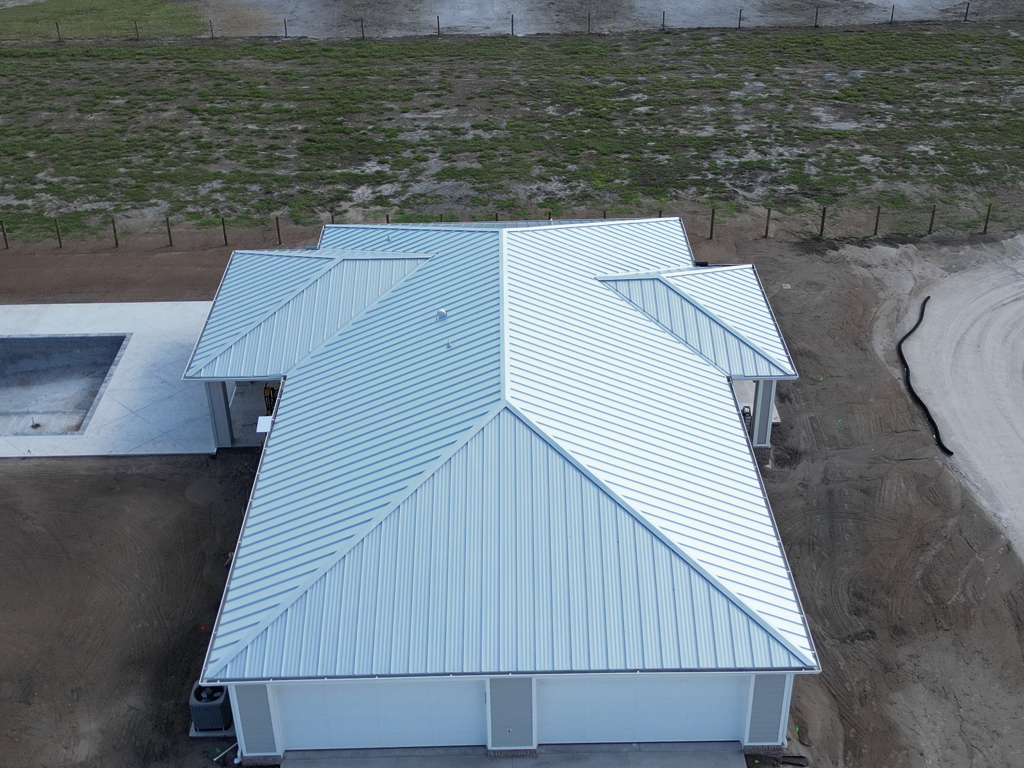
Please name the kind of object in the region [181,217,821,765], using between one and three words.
house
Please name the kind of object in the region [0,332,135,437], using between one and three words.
swimming pool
